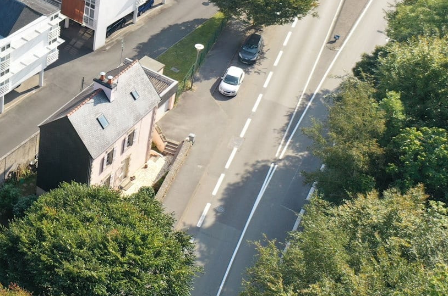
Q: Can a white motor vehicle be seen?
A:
Yes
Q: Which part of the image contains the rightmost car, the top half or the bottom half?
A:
top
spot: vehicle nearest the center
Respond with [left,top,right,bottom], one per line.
[219,62,249,95]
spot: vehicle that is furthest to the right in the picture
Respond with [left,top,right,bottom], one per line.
[241,30,267,61]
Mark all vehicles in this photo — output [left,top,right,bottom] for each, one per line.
[241,30,267,61]
[136,0,162,15]
[104,19,124,39]
[219,62,249,95]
